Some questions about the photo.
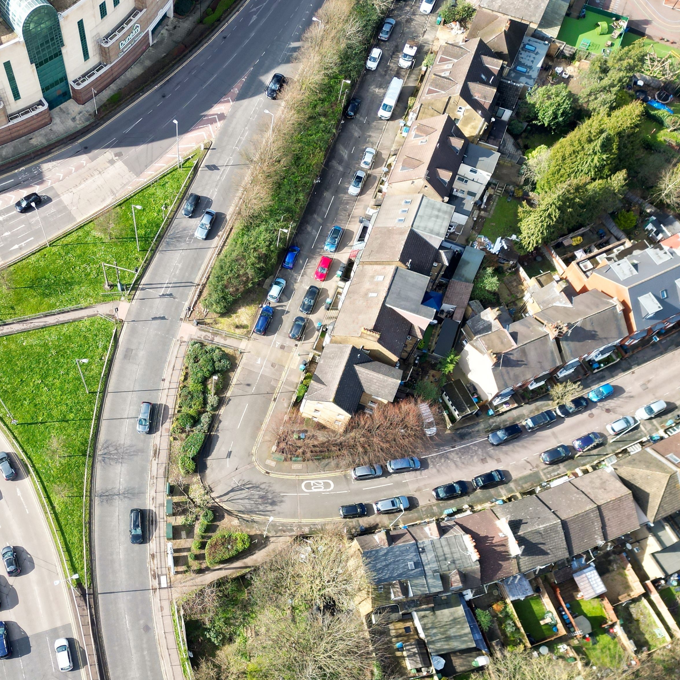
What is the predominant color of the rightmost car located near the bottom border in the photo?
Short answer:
white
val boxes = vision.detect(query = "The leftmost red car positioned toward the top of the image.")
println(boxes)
[314,255,333,283]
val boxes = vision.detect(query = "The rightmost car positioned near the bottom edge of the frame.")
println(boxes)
[54,637,75,674]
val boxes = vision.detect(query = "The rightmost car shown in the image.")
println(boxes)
[633,400,670,422]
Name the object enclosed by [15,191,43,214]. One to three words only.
car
